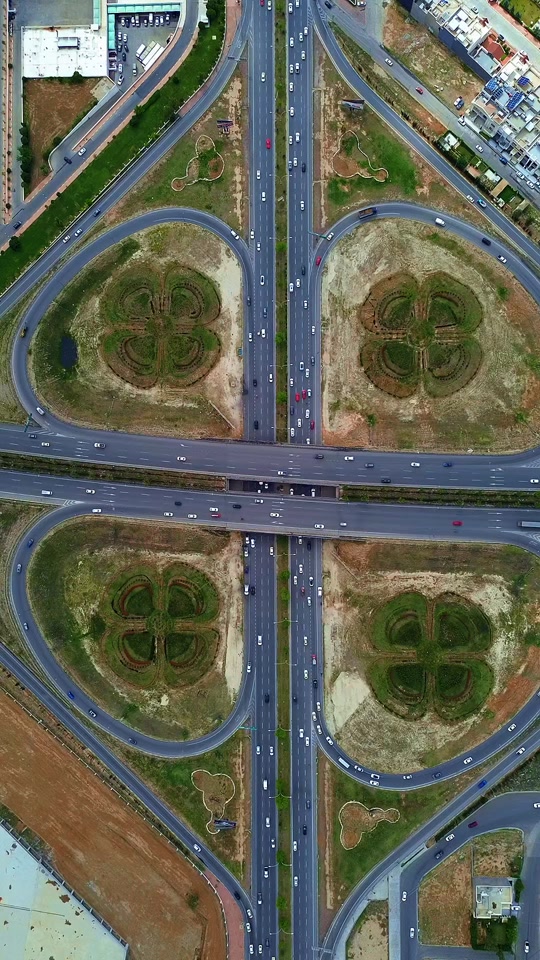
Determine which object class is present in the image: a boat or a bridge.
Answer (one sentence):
There is a bridge in the scene.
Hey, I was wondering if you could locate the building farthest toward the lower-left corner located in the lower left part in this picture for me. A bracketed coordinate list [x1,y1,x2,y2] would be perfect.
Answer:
[0,818,128,960]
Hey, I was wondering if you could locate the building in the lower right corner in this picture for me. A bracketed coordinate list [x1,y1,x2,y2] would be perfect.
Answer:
[473,881,513,920]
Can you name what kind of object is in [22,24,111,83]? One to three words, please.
building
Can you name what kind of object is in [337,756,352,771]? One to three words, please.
vehicle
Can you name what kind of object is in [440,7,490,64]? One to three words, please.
house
